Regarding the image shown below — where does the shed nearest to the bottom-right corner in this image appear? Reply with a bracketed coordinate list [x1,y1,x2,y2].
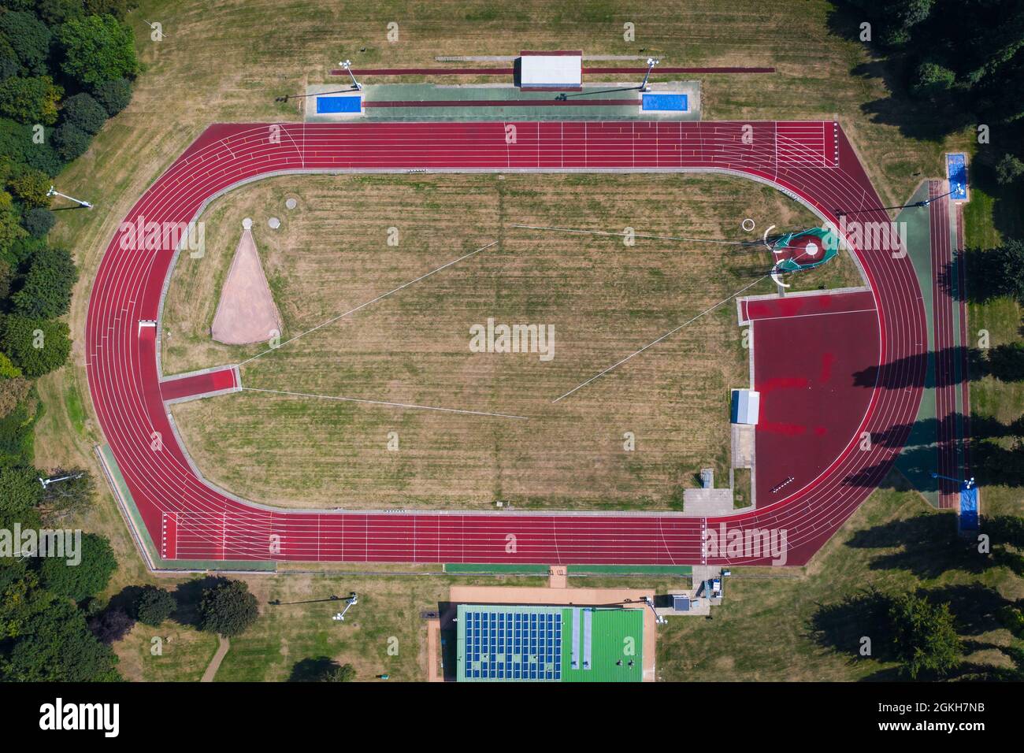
[674,595,692,614]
